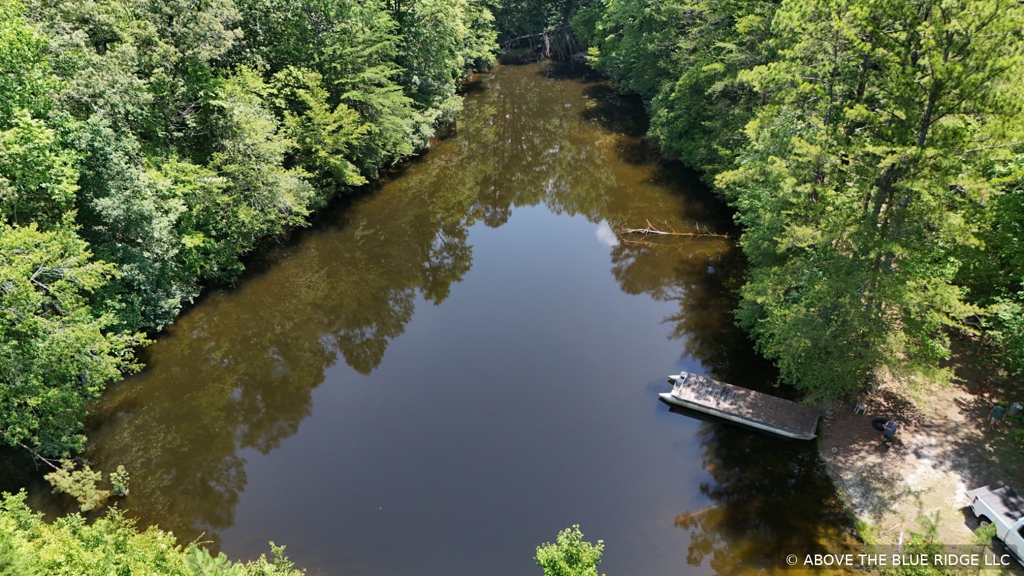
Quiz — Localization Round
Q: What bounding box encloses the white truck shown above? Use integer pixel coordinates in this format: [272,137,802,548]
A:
[966,483,1024,561]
